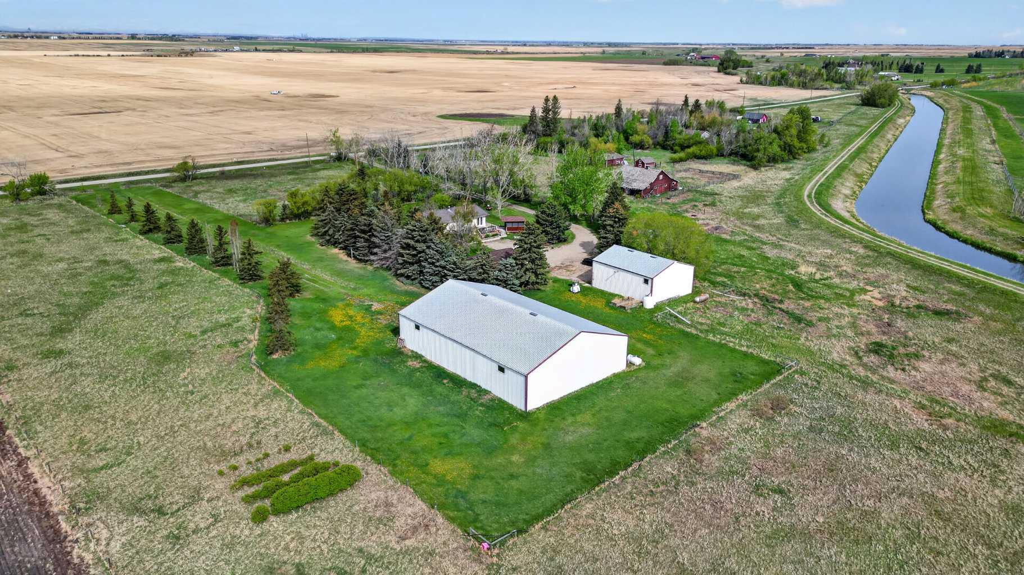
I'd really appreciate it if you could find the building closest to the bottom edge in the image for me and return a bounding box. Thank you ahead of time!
[398,279,631,412]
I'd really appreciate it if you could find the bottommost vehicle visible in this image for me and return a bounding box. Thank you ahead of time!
[572,268,592,282]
